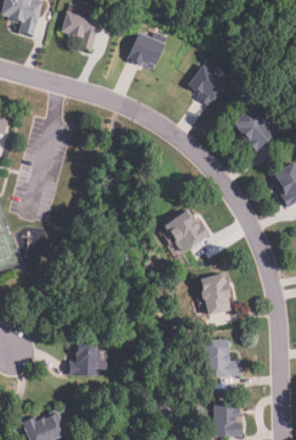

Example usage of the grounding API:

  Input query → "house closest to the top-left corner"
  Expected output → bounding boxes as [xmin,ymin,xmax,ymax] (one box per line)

[3,0,44,36]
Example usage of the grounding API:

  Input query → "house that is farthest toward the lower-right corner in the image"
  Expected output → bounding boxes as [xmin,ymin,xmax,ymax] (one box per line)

[214,406,244,440]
